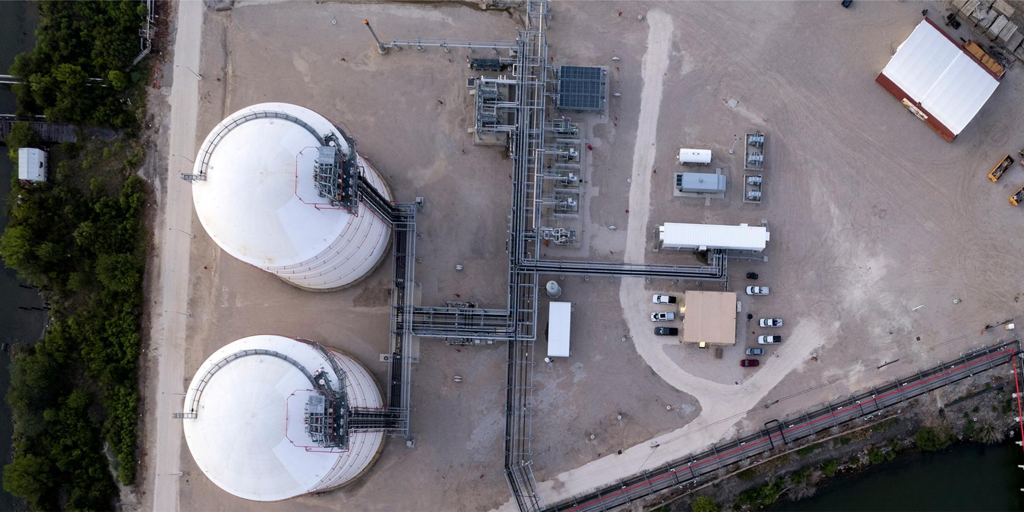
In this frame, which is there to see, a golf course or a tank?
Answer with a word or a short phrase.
tank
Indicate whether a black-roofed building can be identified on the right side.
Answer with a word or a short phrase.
No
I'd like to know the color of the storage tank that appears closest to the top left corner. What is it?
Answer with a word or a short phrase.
white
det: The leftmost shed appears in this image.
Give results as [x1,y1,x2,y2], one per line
[18,147,56,185]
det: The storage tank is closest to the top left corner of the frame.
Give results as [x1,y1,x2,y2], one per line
[168,101,413,290]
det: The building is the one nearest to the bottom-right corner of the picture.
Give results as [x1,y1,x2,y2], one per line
[679,291,736,348]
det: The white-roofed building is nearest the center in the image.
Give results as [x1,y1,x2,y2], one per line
[546,302,572,357]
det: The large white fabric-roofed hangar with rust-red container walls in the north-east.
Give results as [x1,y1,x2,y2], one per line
[877,17,1001,144]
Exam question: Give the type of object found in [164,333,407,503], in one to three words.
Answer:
storage tank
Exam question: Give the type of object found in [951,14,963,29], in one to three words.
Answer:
vehicle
